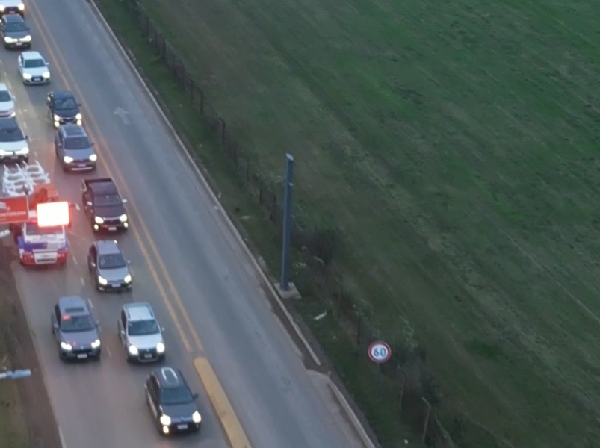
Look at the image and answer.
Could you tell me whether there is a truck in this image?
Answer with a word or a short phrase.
Yes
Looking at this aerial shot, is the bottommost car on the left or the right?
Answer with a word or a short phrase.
left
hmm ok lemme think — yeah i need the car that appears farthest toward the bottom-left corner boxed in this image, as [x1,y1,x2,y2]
[49,296,100,360]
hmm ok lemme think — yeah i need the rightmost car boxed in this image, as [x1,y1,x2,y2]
[144,360,200,435]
